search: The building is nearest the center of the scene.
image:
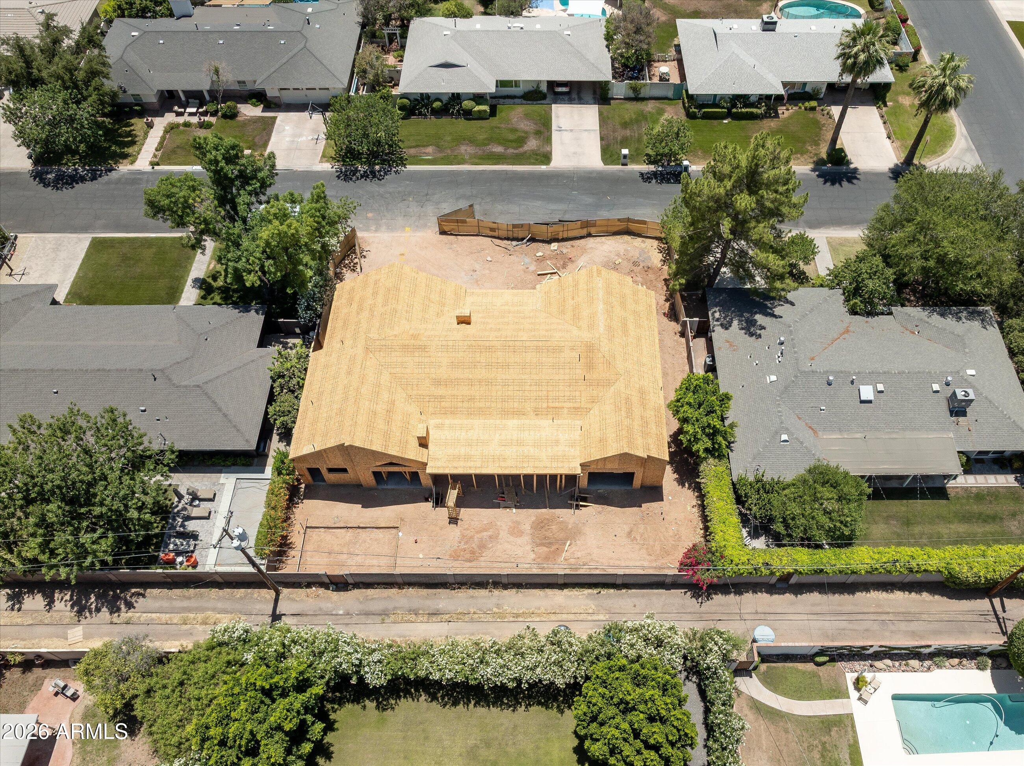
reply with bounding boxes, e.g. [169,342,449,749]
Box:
[289,263,672,494]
